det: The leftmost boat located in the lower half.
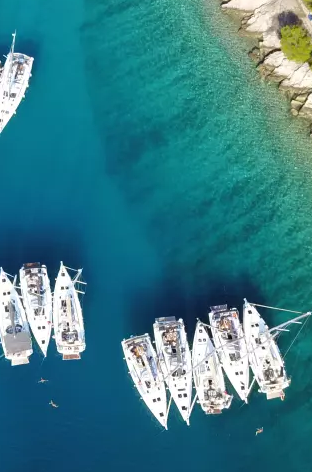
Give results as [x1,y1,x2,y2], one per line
[0,266,32,365]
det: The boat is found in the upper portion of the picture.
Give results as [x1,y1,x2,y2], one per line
[0,22,33,137]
